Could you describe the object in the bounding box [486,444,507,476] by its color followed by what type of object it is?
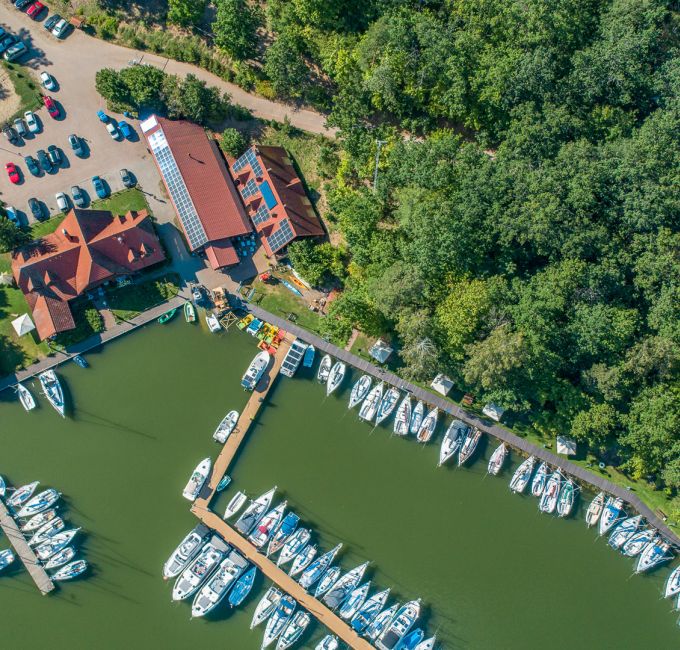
white boat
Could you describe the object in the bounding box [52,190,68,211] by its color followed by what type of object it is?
white car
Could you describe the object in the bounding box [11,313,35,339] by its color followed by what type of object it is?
white tent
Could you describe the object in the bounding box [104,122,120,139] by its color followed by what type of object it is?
white car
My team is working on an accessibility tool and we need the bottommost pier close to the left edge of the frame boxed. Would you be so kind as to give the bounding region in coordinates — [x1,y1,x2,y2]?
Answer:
[0,499,58,596]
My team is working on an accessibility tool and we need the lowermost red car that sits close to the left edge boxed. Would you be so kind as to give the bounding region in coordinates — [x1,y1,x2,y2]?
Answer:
[3,161,19,183]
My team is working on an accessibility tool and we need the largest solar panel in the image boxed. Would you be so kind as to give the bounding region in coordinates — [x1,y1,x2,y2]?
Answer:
[148,129,207,248]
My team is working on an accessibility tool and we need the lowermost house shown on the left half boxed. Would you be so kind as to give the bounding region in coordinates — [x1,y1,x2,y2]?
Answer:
[11,207,167,341]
